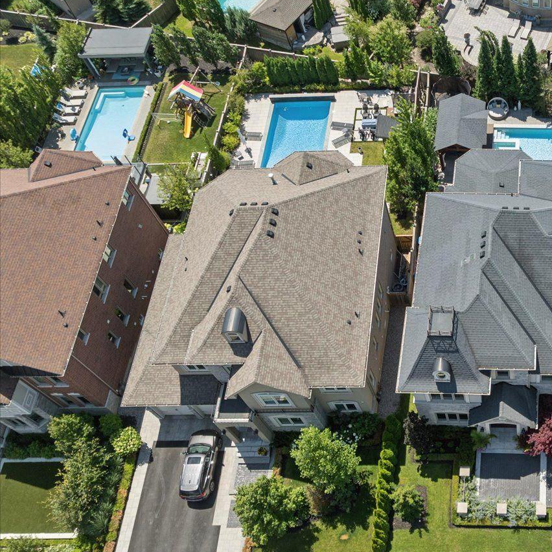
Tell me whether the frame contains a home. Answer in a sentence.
Yes, there is a home in the image.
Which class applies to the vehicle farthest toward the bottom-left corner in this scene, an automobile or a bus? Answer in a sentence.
From above, the vehicle farthest toward the bottom-left corner can be identified as an automobile.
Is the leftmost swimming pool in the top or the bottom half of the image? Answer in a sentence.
You can find the leftmost swimming pool in the top half.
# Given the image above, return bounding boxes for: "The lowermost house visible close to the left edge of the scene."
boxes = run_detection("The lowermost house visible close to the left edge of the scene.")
[0,148,164,472]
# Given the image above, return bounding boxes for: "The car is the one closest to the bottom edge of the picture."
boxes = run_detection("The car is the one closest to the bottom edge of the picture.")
[170,429,222,505]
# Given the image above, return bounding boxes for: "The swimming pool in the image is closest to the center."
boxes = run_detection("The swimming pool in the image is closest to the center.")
[255,94,336,167]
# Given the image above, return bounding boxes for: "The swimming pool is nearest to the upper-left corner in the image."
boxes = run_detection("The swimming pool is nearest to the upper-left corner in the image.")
[71,84,149,165]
